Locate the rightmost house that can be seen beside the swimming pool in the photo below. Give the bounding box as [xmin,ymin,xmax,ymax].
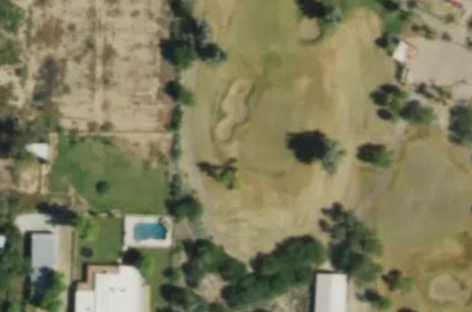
[74,266,142,312]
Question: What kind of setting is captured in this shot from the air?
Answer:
golf course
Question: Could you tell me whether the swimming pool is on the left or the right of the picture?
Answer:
left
